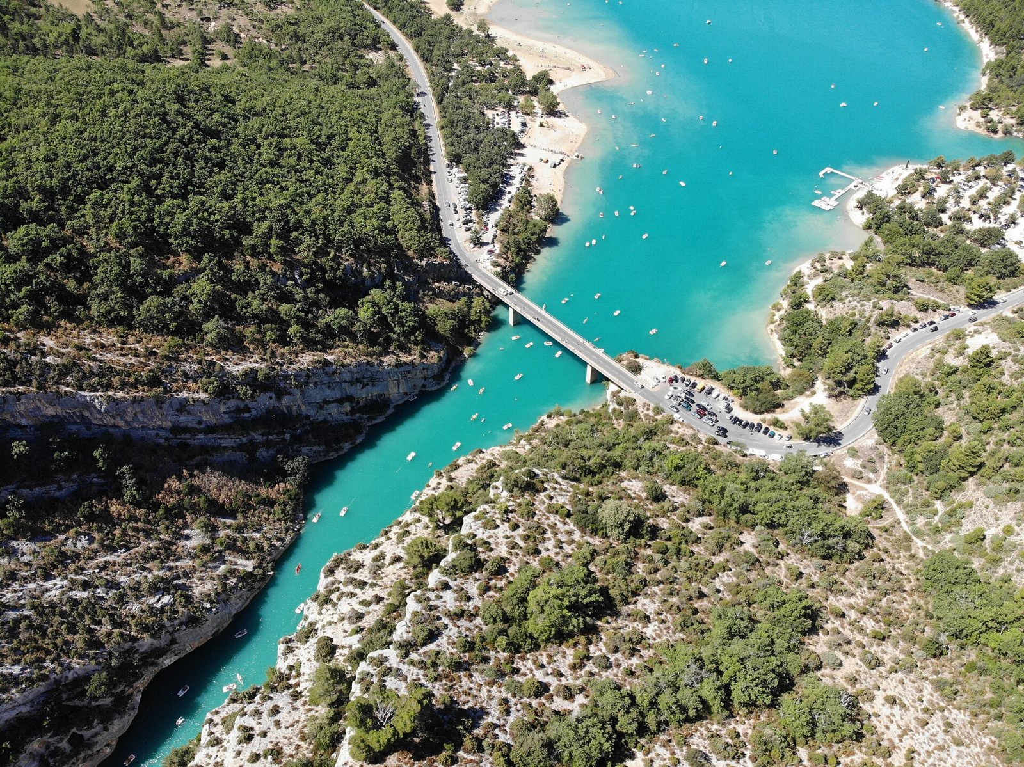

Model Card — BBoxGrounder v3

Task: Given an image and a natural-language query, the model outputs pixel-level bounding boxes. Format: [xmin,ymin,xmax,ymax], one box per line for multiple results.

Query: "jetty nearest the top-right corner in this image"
[816,167,867,209]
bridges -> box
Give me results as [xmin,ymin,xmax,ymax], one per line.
[469,265,653,400]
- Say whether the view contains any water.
Yes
